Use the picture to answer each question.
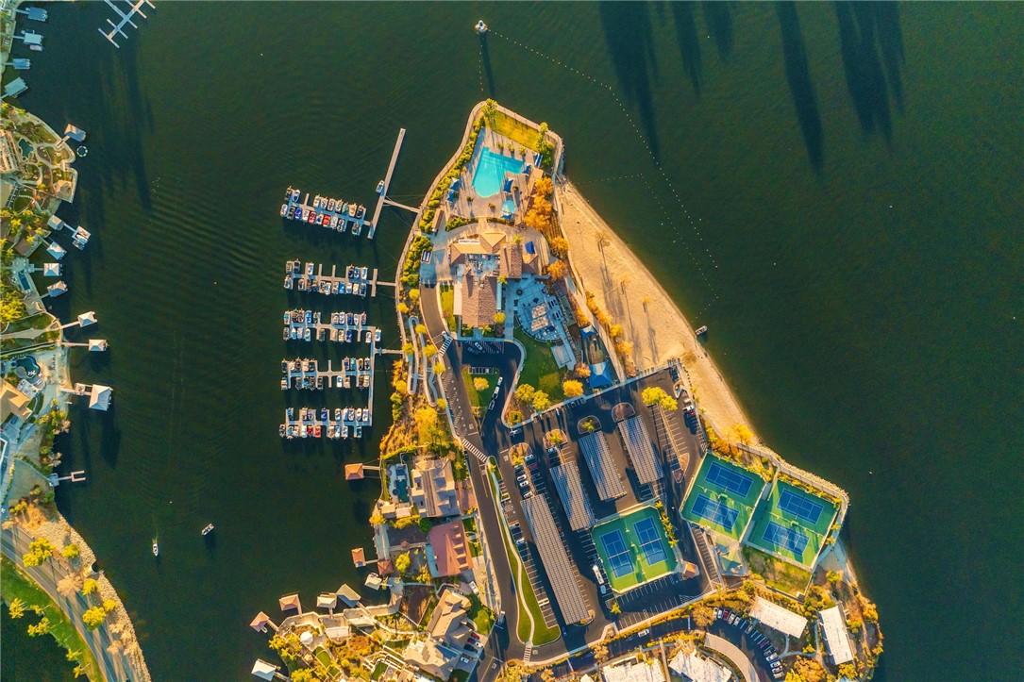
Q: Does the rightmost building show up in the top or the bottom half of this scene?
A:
bottom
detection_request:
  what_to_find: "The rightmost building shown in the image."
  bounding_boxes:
[814,605,853,665]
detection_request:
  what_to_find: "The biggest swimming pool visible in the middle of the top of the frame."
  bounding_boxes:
[472,147,523,198]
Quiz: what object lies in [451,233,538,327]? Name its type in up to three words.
building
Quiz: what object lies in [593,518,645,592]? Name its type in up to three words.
tennis court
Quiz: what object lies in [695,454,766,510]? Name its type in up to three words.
tennis court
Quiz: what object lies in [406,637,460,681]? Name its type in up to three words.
house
